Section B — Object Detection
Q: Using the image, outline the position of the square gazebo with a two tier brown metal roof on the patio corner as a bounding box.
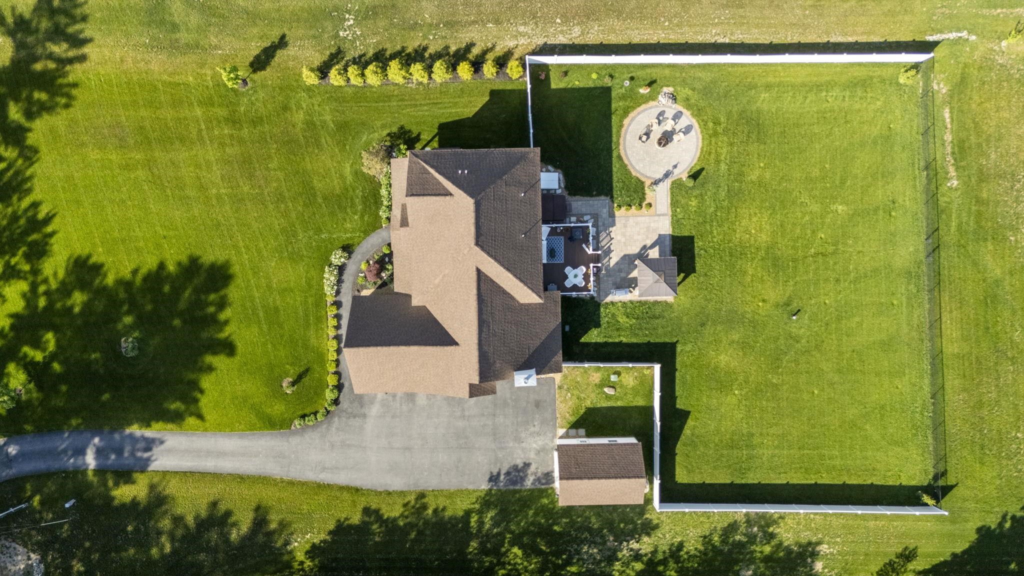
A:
[634,256,678,298]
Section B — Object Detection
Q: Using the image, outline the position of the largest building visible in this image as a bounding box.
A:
[343,149,563,400]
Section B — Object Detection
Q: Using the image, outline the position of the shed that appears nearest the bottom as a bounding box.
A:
[554,439,646,506]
